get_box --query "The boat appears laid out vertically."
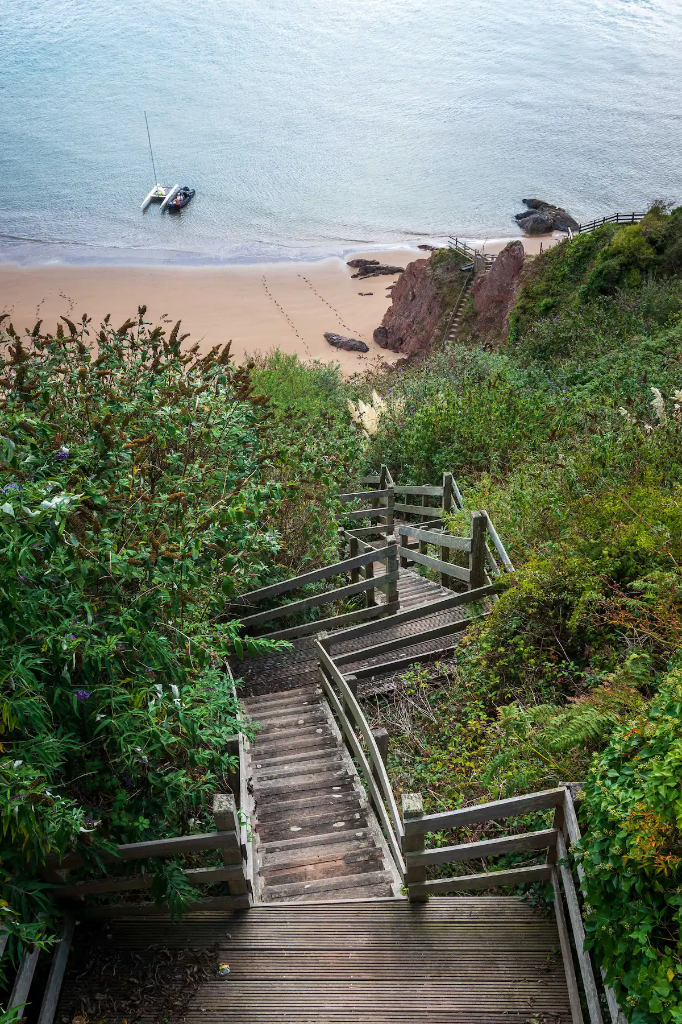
[140,106,179,211]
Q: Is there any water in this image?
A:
Yes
